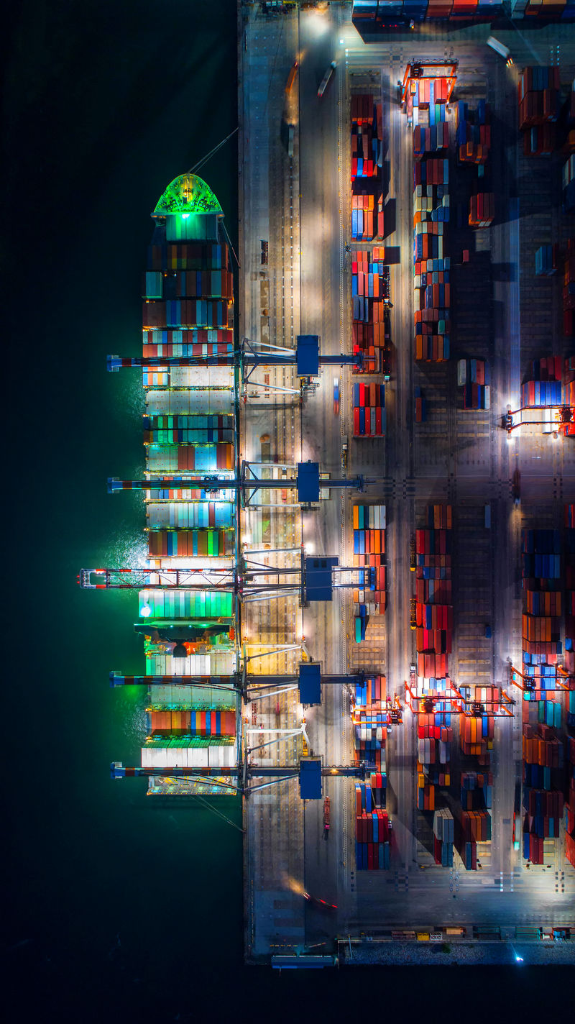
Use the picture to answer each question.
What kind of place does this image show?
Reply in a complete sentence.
This looks like a port.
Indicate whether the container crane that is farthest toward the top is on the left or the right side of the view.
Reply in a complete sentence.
The container crane that is farthest toward the top is on the right side of the image.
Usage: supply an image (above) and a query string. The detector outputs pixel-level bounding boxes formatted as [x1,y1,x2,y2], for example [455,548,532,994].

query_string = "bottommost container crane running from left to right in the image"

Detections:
[107,708,380,799]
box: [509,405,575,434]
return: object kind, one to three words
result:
container crane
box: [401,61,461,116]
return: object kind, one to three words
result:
container crane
